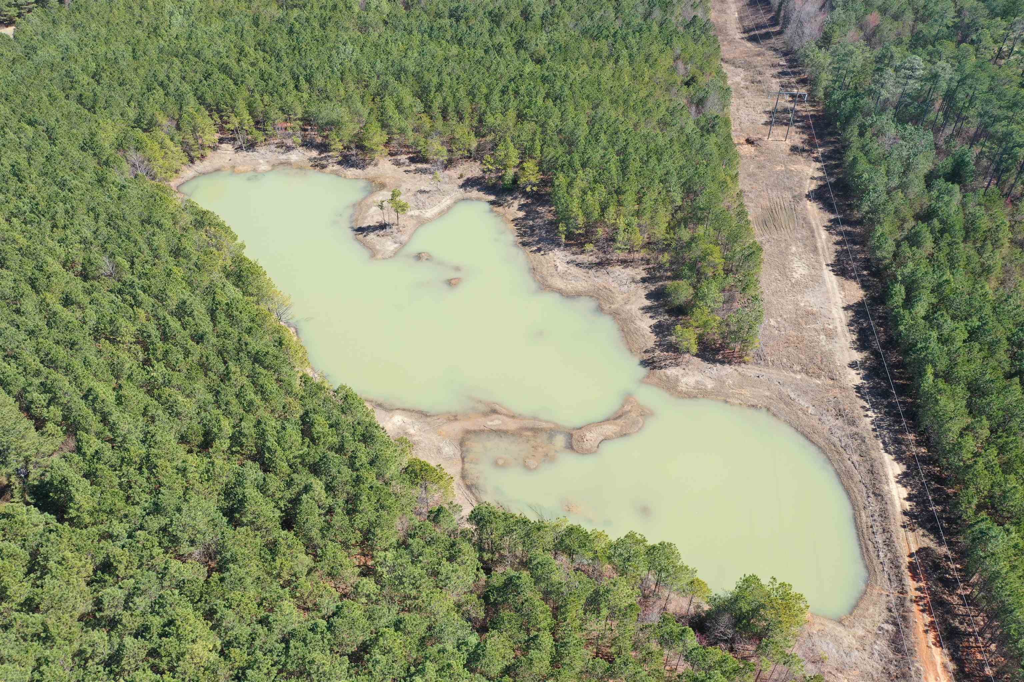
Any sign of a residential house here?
No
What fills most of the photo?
trees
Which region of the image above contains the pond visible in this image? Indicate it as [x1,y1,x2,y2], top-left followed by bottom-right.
[182,170,861,613]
